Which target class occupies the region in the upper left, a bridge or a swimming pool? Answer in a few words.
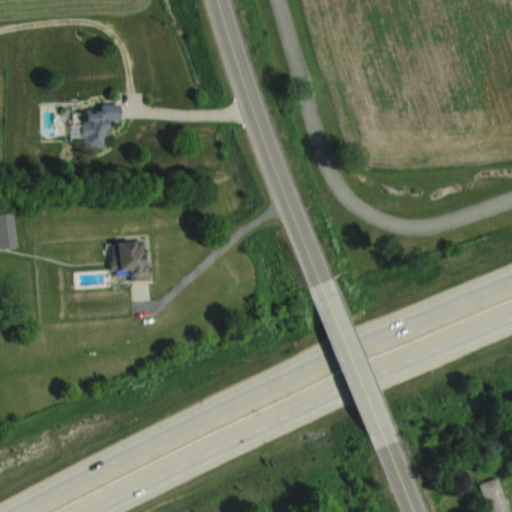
swimming pool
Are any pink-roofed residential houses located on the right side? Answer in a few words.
No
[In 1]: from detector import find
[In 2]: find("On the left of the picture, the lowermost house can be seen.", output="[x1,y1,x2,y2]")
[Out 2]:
[104,239,152,282]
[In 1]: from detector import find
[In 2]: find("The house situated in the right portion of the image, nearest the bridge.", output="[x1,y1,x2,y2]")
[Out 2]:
[479,483,508,512]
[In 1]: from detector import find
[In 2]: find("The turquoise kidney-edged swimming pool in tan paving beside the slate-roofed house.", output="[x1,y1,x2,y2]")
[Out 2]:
[40,104,66,138]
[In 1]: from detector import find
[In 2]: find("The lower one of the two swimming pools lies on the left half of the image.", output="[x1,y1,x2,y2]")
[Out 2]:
[74,269,112,290]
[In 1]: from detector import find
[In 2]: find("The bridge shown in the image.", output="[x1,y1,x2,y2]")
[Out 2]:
[309,276,400,452]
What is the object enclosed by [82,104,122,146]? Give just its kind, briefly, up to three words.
house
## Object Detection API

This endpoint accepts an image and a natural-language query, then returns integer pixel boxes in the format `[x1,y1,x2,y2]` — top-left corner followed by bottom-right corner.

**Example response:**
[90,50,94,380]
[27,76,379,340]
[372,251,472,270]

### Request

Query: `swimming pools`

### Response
[74,269,112,290]
[40,104,66,138]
